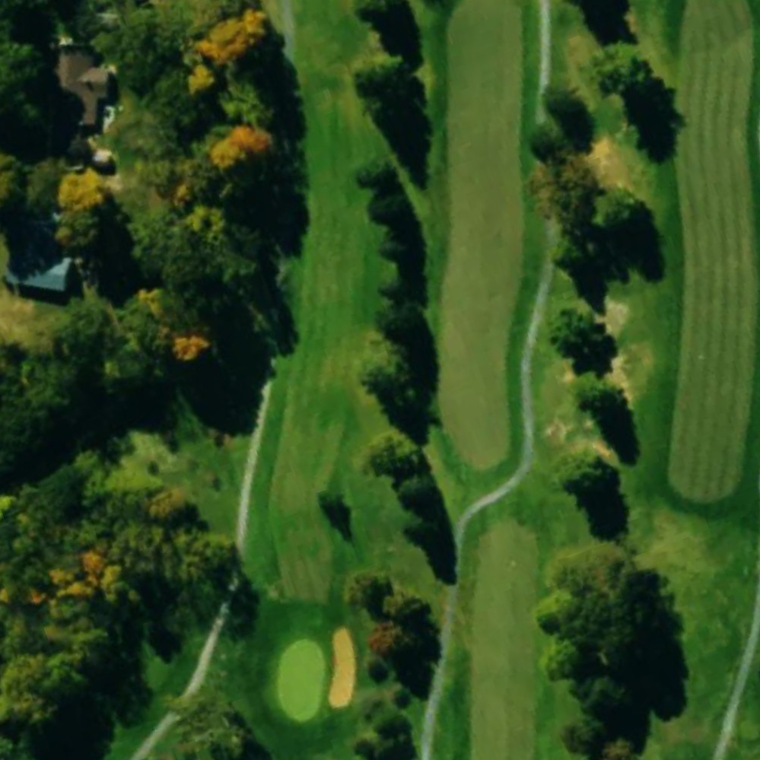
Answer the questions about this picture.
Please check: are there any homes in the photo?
Yes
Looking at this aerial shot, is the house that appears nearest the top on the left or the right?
left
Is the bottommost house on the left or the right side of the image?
left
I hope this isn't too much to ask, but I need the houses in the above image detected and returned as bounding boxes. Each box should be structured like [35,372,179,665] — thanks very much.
[6,218,75,295]
[58,49,113,126]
